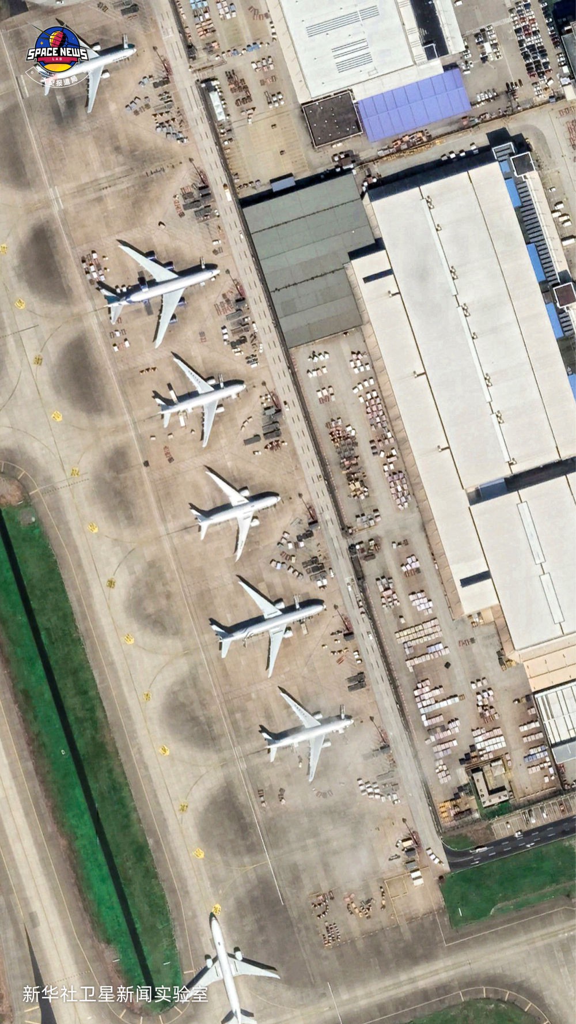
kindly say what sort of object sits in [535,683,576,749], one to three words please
building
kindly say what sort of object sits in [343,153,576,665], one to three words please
warehouse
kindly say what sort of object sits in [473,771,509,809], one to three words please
building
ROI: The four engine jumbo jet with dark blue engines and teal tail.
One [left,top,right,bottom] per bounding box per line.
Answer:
[98,245,220,348]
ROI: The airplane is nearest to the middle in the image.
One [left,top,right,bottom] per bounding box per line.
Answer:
[195,471,280,561]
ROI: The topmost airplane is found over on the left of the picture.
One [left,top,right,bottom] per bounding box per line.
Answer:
[44,26,136,113]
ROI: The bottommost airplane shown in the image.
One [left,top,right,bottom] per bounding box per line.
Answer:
[184,917,281,1024]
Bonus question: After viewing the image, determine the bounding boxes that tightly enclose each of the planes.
[215,581,325,677]
[156,359,246,447]
[98,245,220,348]
[184,917,281,1024]
[195,471,280,561]
[261,694,354,782]
[44,26,136,113]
